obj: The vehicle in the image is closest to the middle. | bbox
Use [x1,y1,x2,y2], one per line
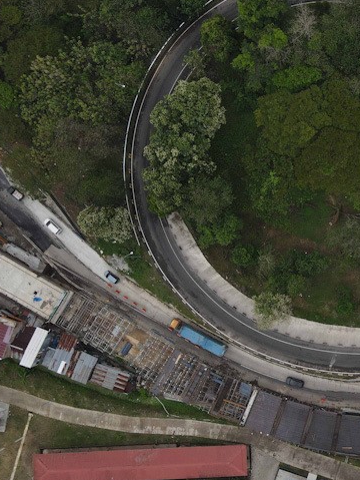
[101,270,120,285]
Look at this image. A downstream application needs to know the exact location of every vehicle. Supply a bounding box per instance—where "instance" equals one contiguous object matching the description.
[101,270,120,285]
[4,184,24,202]
[284,377,305,387]
[167,318,226,358]
[41,218,61,235]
